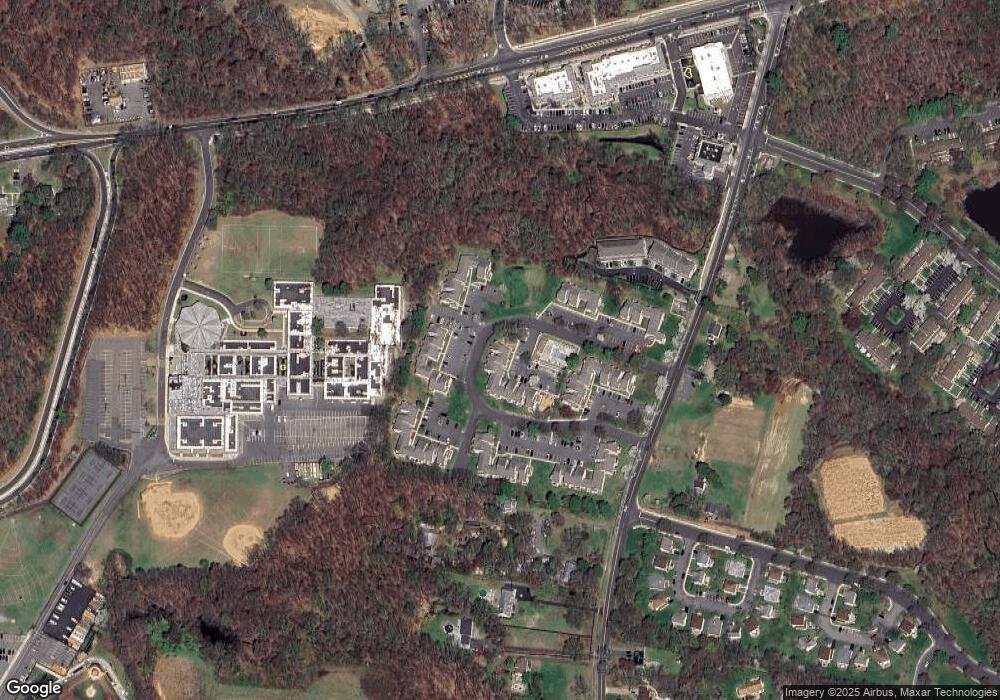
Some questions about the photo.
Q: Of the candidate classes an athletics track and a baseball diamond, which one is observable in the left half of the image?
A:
baseball diamond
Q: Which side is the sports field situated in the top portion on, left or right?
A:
left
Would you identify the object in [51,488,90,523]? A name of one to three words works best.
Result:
tennis court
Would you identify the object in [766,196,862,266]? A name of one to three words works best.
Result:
pond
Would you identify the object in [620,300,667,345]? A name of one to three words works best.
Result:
building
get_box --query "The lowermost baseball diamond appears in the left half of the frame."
[61,659,127,700]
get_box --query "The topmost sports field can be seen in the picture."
[203,210,320,286]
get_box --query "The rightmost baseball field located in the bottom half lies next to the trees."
[224,525,271,565]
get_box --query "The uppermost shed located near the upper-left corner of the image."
[120,62,146,83]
